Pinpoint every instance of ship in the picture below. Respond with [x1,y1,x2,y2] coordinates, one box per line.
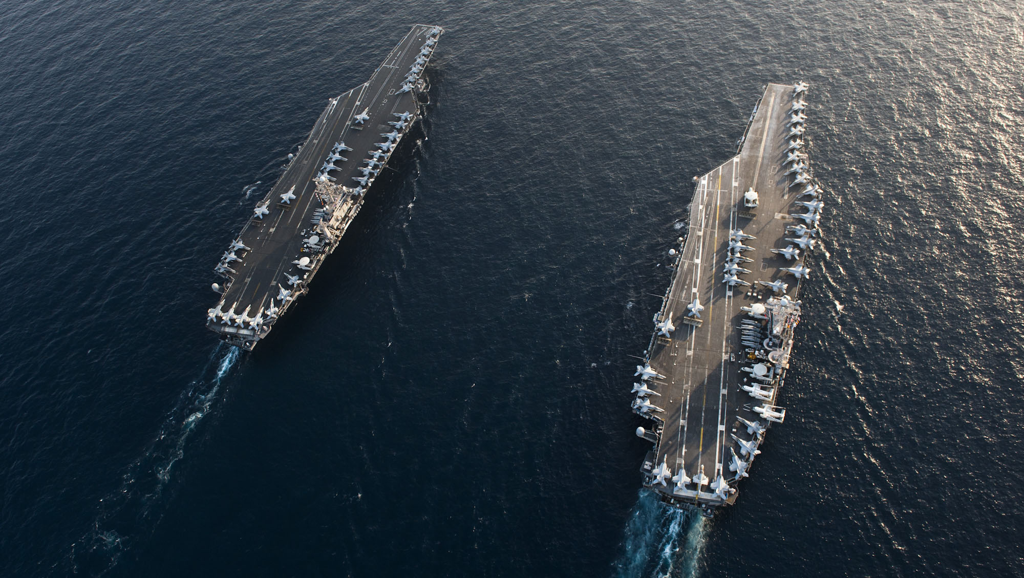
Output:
[627,83,824,531]
[204,24,443,359]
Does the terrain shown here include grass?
No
